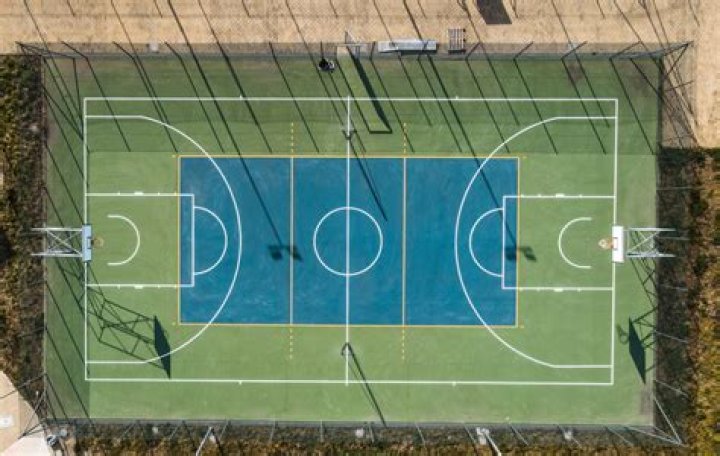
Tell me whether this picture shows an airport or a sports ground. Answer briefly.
sports ground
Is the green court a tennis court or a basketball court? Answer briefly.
basketball court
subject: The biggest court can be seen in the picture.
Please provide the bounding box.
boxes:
[45,58,659,424]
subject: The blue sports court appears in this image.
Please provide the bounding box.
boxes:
[173,124,525,358]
